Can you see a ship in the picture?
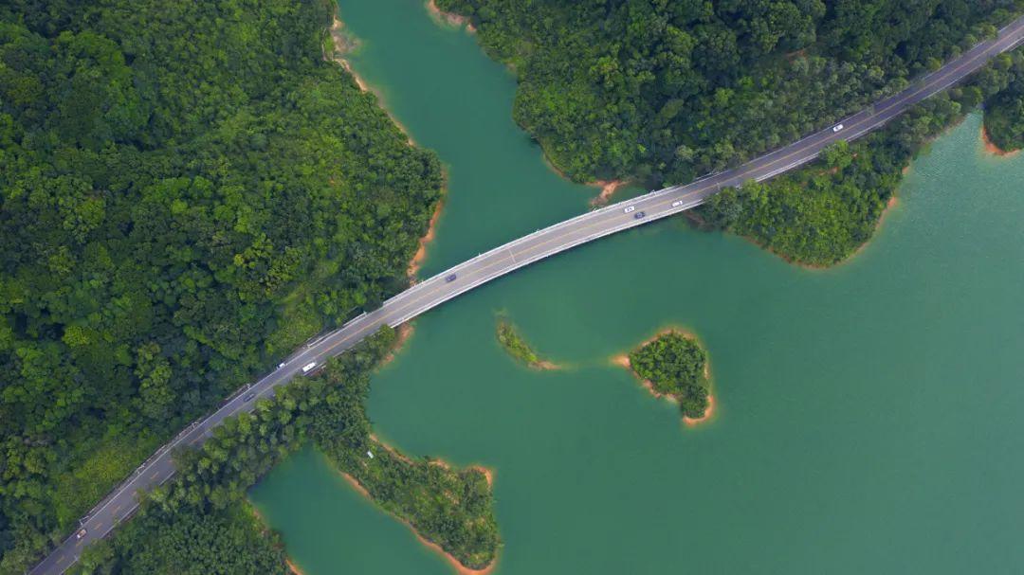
No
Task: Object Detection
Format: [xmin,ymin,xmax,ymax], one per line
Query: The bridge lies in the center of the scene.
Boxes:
[377,177,706,331]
